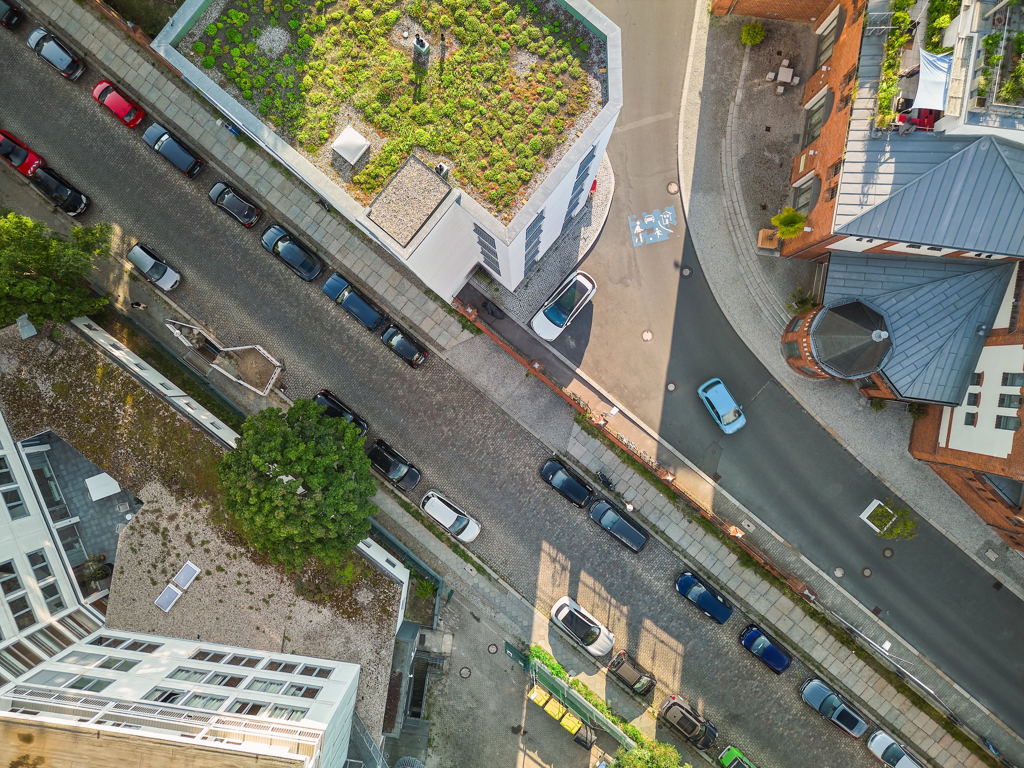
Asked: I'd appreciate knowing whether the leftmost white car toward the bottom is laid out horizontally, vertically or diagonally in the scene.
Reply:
diagonally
